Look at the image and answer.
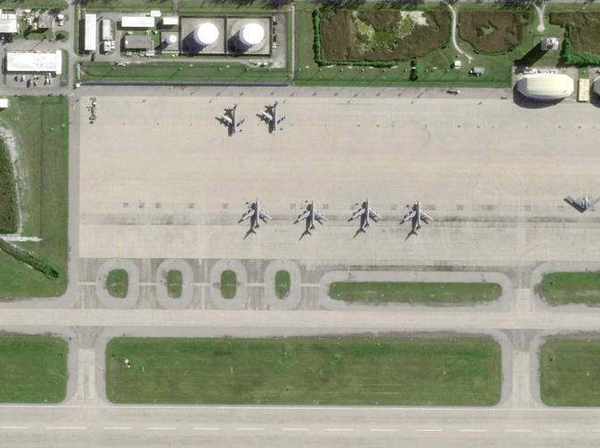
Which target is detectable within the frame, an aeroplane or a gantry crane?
aeroplane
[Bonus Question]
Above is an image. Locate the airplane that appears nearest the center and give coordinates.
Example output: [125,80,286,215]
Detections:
[299,201,326,228]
